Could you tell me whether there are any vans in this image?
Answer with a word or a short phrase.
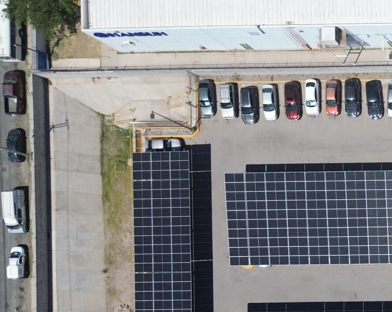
Yes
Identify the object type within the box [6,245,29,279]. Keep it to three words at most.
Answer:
truck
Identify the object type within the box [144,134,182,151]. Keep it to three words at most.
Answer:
car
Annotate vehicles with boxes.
[1,188,30,233]
[364,80,384,120]
[196,80,217,117]
[1,70,24,114]
[281,81,302,121]
[4,129,27,162]
[321,79,341,117]
[6,245,29,279]
[217,83,238,119]
[238,87,259,124]
[385,81,392,118]
[342,78,362,118]
[259,84,279,120]
[301,78,320,115]
[144,134,182,151]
